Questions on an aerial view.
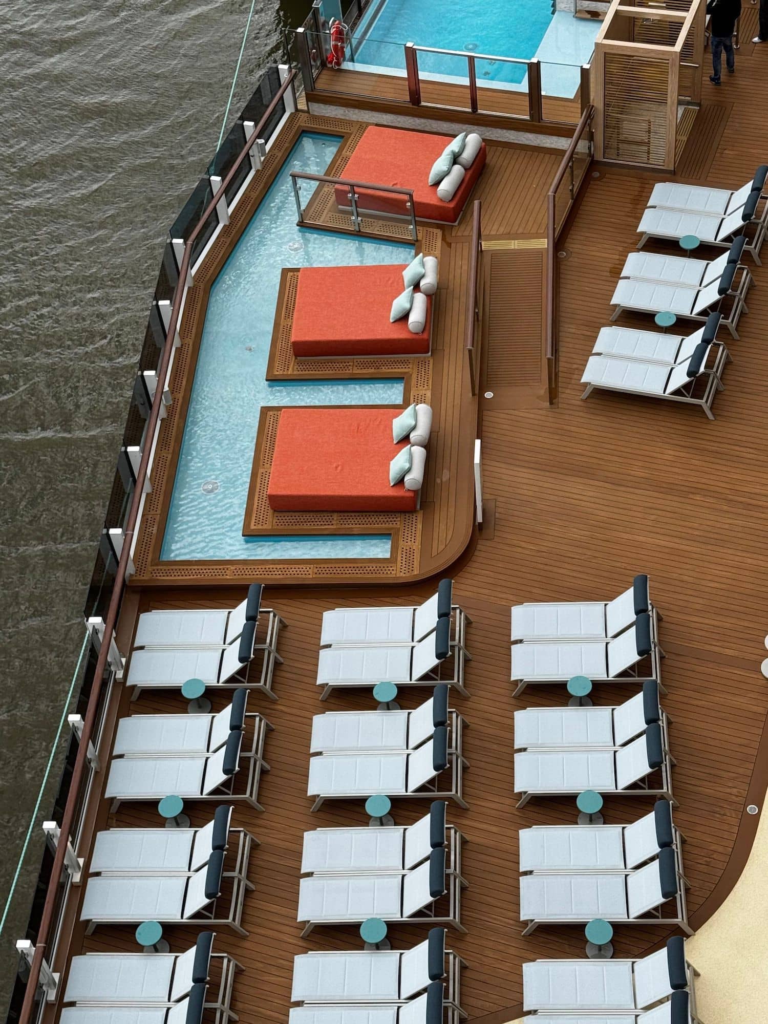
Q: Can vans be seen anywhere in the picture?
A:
No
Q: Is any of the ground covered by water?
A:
Yes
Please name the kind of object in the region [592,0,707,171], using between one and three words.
building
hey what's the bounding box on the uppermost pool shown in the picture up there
[344,0,604,99]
